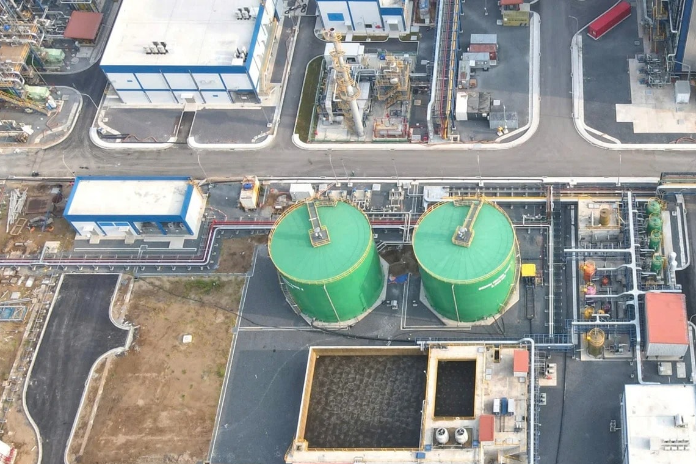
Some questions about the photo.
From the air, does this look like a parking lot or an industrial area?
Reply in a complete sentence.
The picture captures an industrial area.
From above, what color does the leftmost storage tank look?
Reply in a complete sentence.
The color of the leftmost storage tank is green.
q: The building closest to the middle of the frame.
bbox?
[293,184,321,205]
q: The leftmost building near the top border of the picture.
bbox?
[101,0,284,107]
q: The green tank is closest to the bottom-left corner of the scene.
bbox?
[264,192,390,327]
